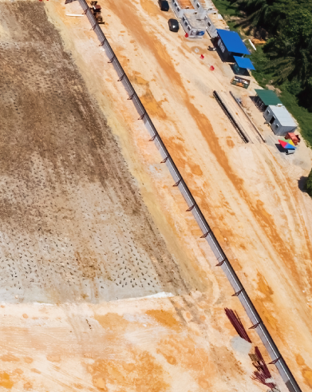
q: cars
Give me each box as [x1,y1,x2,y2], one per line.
[168,16,180,29]
[158,0,171,11]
